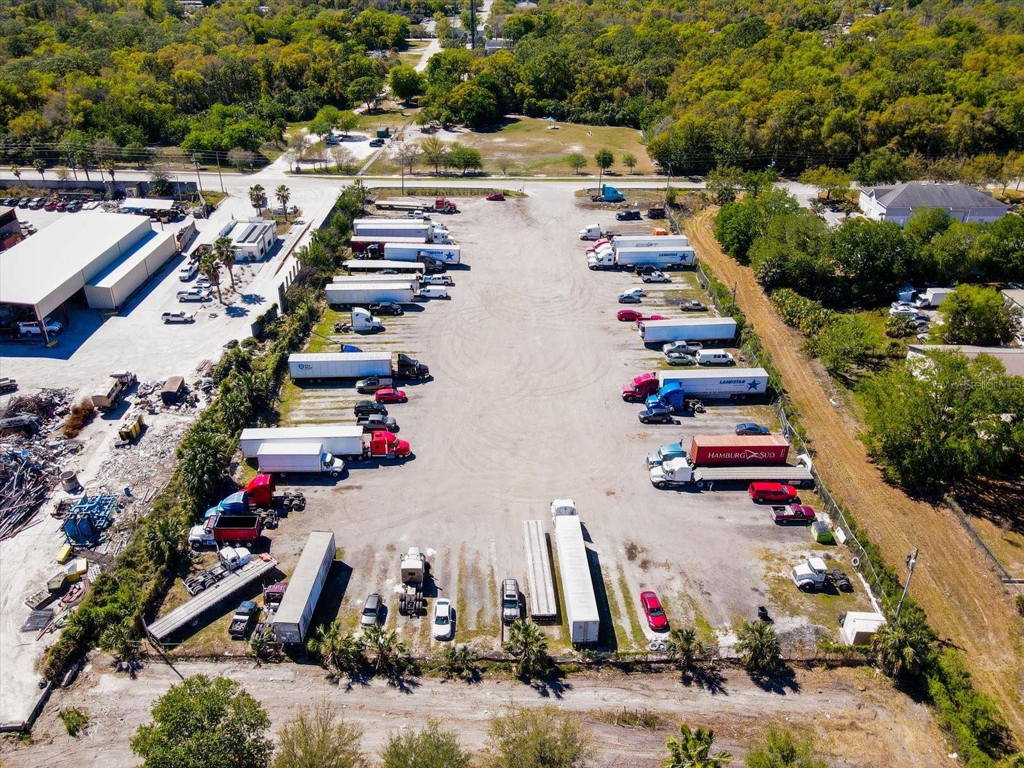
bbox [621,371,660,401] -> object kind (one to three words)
truck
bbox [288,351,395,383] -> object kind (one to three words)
trailer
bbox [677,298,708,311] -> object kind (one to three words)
vehicle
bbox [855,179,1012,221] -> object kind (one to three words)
house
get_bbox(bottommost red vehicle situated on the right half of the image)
[641,585,668,627]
